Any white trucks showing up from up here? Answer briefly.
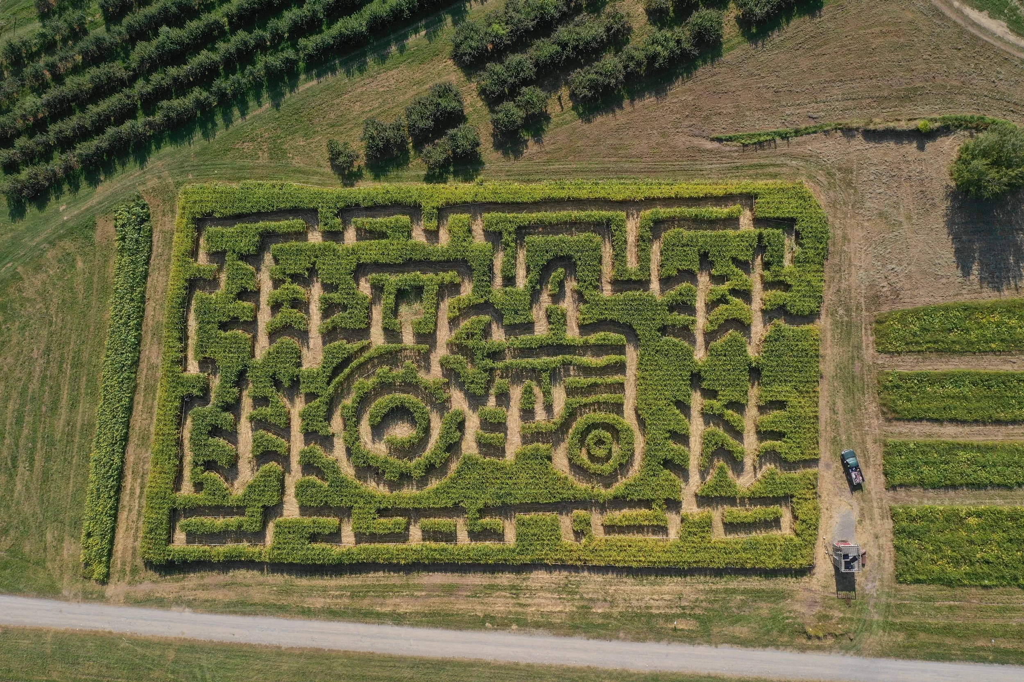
No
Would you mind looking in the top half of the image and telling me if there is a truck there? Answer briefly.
No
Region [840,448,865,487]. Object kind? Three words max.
truck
